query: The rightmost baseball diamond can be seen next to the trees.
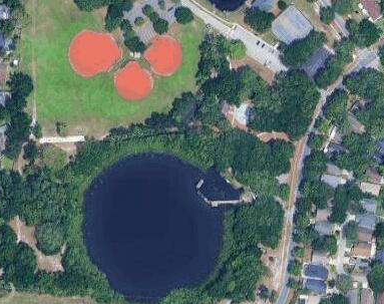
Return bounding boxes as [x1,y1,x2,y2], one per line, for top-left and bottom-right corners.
[142,34,183,76]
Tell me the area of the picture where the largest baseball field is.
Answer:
top left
